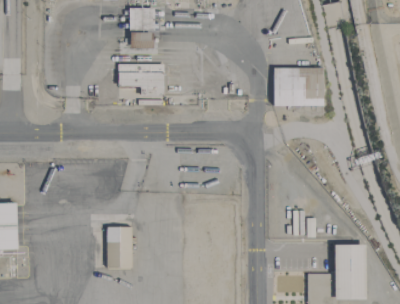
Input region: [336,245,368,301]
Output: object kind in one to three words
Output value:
building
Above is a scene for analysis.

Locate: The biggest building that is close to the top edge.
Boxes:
[129,8,156,31]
